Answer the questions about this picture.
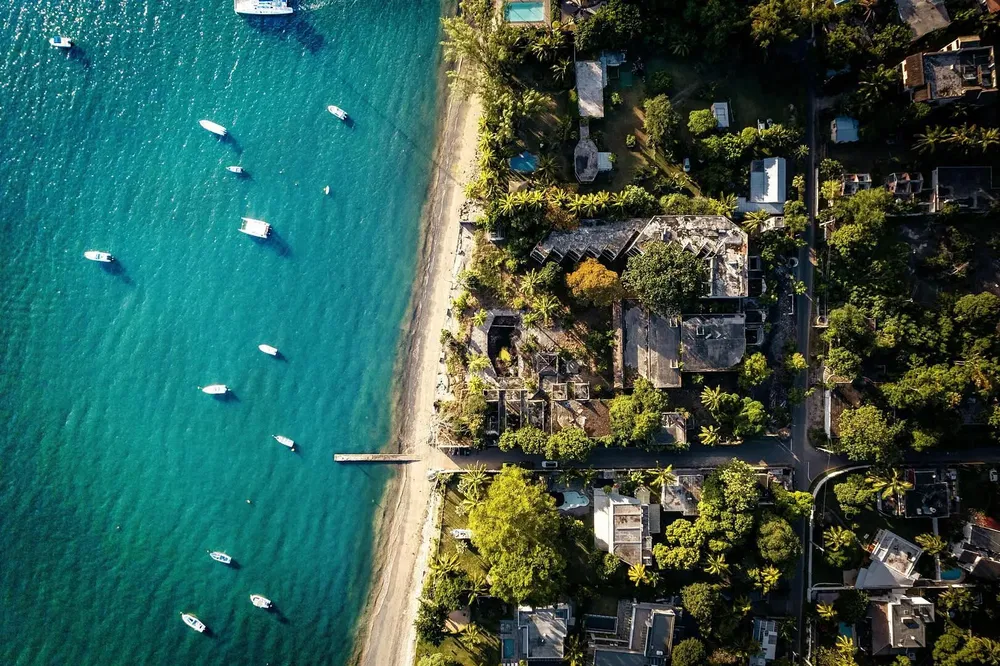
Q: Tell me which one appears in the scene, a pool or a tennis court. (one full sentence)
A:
Looking from above, you can make out a pool.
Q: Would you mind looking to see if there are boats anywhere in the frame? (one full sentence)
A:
Yes, you can see a boat in this photo.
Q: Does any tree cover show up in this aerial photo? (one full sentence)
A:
Yes, there is tree cover in the image.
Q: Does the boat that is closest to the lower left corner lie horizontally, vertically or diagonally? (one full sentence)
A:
In this picture, the boat that is closest to the lower left corner lies diagonally.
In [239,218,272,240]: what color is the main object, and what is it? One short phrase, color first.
white boat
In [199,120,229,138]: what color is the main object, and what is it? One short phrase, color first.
white boat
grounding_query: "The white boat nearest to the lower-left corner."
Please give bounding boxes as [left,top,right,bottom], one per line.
[182,612,207,634]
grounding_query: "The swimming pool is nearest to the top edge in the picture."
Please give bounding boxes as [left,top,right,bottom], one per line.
[497,0,552,27]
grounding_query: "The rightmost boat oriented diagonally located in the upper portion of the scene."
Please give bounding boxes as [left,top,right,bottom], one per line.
[328,105,350,121]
